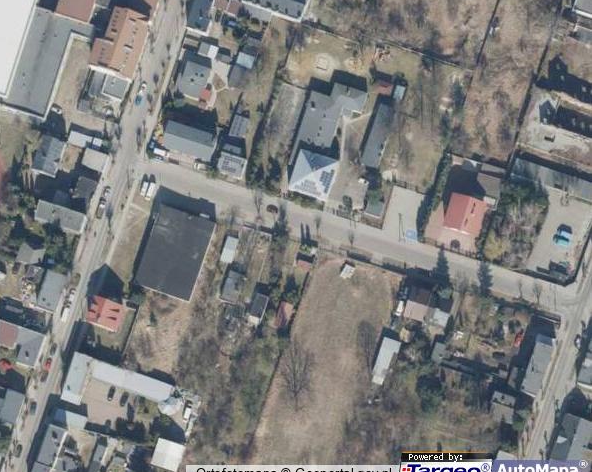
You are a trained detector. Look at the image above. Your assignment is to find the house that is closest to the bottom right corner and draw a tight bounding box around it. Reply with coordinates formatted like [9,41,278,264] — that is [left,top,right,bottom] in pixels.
[552,414,592,472]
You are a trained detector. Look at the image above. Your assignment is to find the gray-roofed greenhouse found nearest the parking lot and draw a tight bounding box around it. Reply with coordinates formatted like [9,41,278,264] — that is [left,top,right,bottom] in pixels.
[512,163,592,204]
